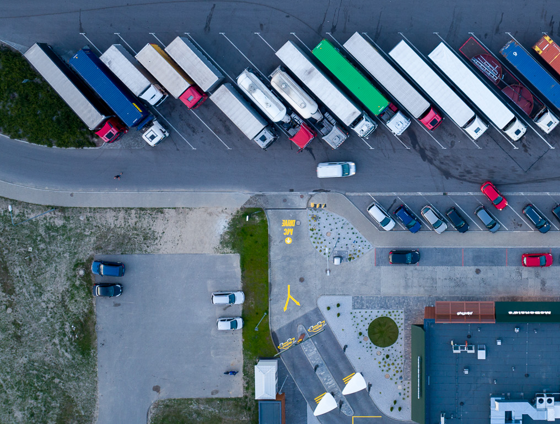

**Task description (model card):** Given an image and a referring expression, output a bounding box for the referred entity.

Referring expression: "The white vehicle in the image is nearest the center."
[316,162,356,178]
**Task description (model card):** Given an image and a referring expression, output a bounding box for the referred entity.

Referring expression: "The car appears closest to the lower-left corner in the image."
[93,281,123,298]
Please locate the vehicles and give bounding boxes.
[134,43,211,111]
[389,40,489,140]
[421,205,449,235]
[23,42,129,144]
[212,290,246,306]
[312,37,412,135]
[428,42,528,142]
[366,200,396,231]
[523,203,551,235]
[99,44,172,109]
[236,67,317,148]
[474,205,502,232]
[276,40,378,140]
[91,260,126,278]
[482,180,507,210]
[521,252,553,269]
[93,281,123,298]
[217,315,245,333]
[394,204,422,235]
[529,33,560,76]
[497,39,560,112]
[389,249,420,267]
[68,47,173,149]
[316,162,356,178]
[551,204,560,222]
[445,206,470,233]
[220,372,238,378]
[343,31,444,131]
[269,65,349,149]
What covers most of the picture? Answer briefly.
paved ground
